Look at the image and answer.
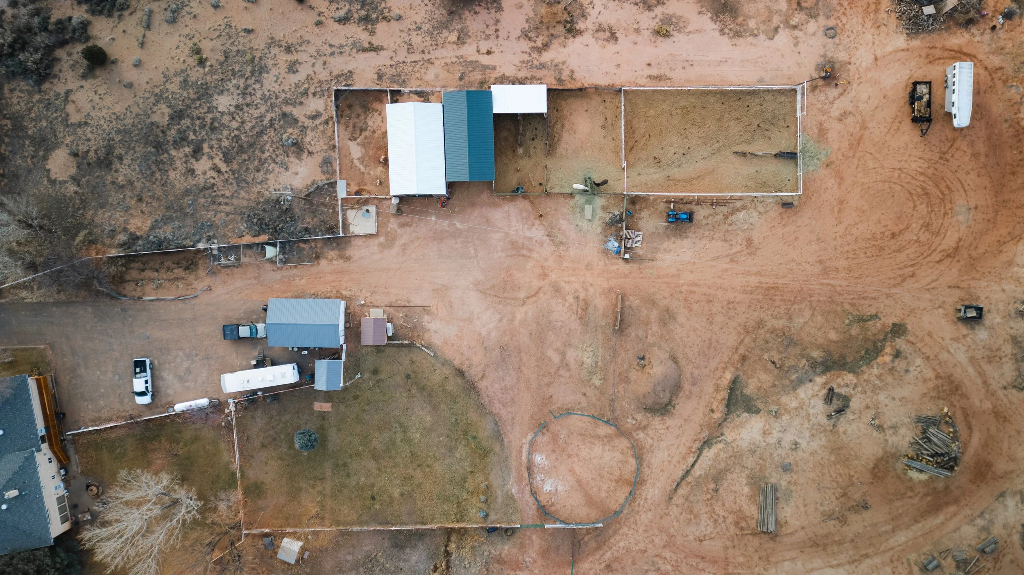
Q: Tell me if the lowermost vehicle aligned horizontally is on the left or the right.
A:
left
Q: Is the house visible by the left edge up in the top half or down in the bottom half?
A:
bottom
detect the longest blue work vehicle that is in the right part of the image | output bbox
[667,209,696,224]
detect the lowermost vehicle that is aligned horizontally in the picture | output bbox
[222,361,313,393]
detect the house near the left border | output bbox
[0,374,74,555]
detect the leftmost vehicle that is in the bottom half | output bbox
[131,358,156,405]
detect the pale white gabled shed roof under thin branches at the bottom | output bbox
[277,536,305,564]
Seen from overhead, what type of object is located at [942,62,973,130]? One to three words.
trailer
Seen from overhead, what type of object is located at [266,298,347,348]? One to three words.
building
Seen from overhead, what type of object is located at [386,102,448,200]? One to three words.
barn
